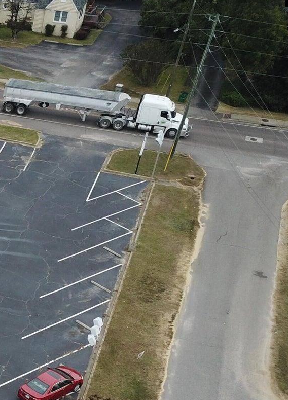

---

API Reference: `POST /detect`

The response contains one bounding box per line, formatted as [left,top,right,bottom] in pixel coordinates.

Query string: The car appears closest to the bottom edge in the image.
[18,365,89,400]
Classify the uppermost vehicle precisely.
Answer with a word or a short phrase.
truck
